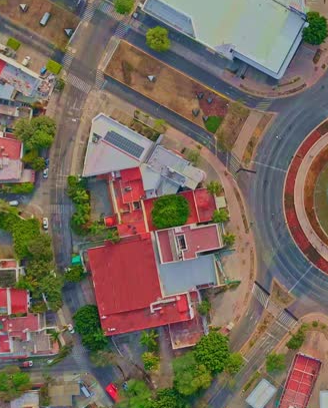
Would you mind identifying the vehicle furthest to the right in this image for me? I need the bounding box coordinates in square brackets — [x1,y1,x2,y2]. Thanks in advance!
[103,381,121,399]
